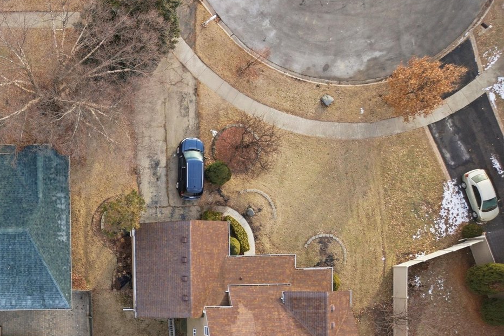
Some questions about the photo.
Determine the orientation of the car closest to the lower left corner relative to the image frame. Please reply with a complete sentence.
In this picture, the car closest to the lower left corner lies up and down.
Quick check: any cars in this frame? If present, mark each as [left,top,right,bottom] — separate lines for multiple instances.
[463,166,503,225]
[177,138,209,199]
